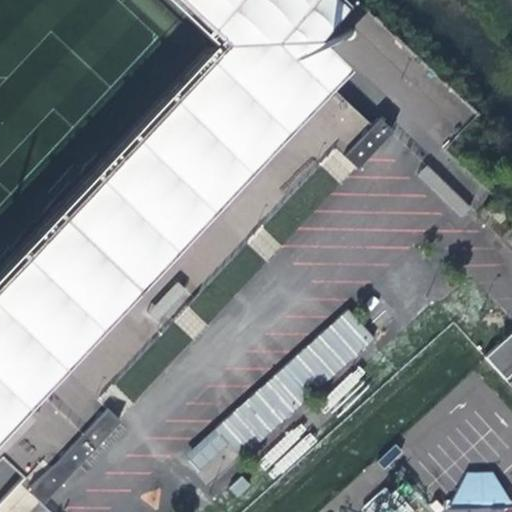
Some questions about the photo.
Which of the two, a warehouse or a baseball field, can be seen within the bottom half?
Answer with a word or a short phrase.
warehouse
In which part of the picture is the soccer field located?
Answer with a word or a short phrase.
top left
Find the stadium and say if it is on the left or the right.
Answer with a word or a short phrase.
left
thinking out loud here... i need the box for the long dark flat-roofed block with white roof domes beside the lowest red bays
[30,408,120,500]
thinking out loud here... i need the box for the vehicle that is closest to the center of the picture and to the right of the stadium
[364,296,381,314]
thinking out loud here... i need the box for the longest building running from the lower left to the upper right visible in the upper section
[344,118,394,168]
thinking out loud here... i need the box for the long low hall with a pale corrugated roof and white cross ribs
[189,310,374,482]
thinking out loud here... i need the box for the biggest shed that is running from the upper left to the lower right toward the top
[418,166,472,218]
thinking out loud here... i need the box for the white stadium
[0,0,356,450]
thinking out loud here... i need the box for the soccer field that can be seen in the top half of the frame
[0,0,189,230]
